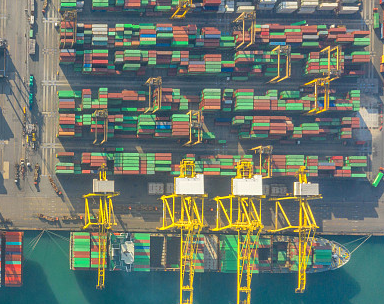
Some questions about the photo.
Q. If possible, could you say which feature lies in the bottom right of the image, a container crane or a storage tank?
container crane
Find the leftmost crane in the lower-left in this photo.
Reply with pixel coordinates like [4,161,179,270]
[76,164,116,290]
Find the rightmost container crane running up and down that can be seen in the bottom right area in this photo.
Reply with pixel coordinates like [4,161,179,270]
[263,171,322,294]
